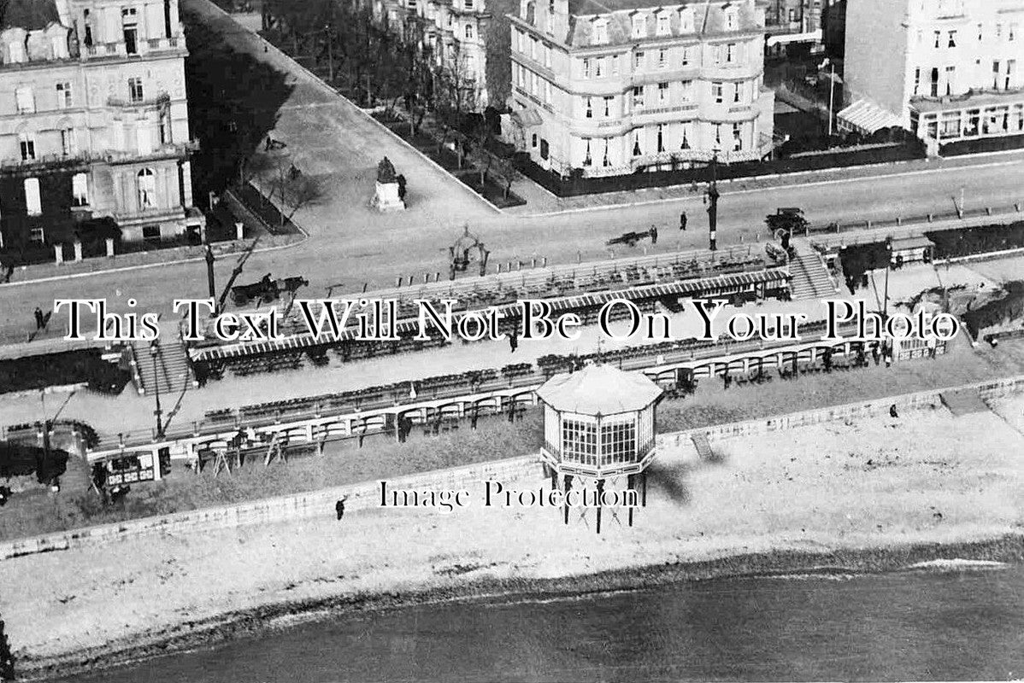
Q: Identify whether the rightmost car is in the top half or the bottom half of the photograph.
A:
top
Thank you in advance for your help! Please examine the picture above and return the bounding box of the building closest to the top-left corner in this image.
[0,0,213,253]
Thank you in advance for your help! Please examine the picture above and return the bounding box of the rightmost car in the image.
[758,209,805,237]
